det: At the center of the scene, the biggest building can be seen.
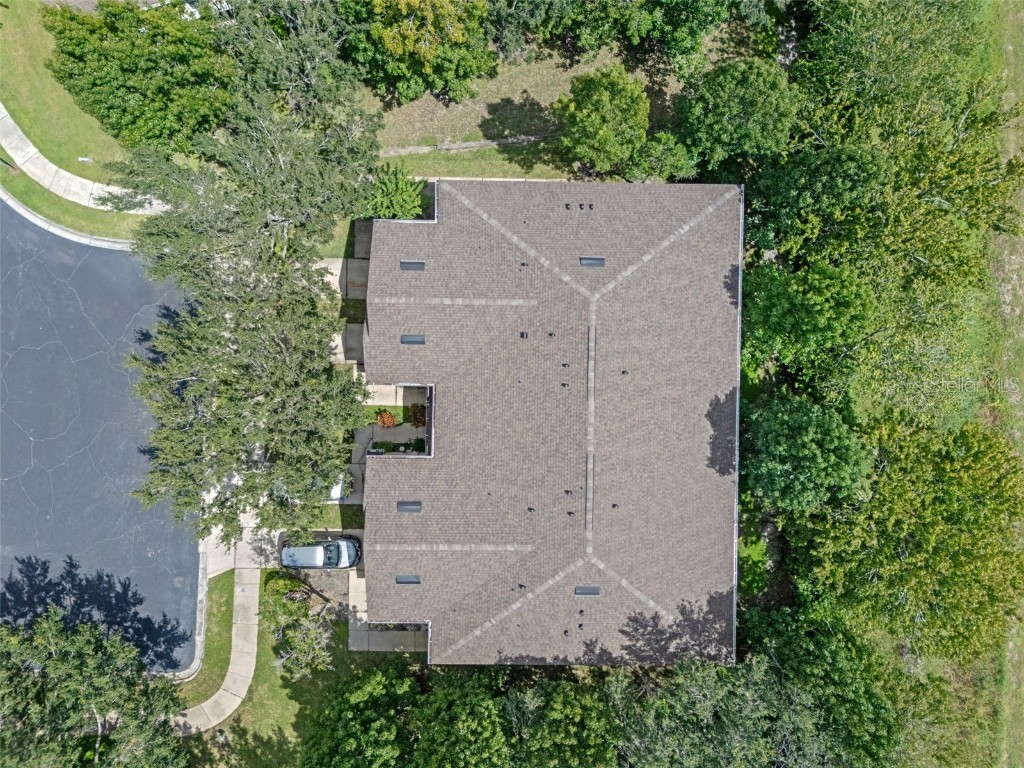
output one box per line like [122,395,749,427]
[361,180,745,666]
